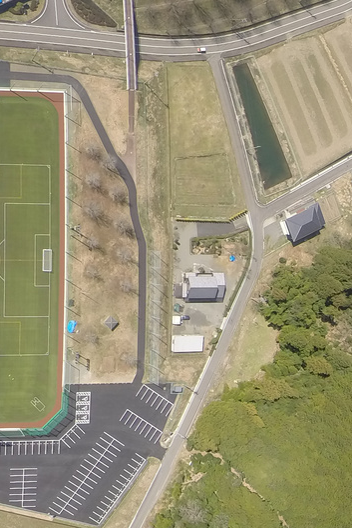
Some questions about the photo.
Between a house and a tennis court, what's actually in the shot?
house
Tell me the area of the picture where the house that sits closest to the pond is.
right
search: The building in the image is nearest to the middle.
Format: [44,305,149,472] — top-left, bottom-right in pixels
[172,274,227,301]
